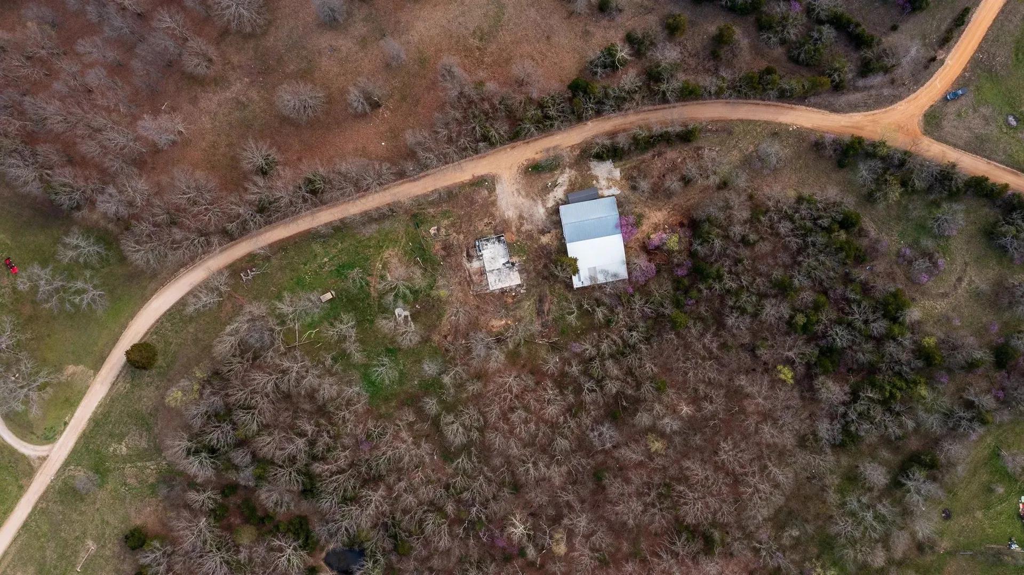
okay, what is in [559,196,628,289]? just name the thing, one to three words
barn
